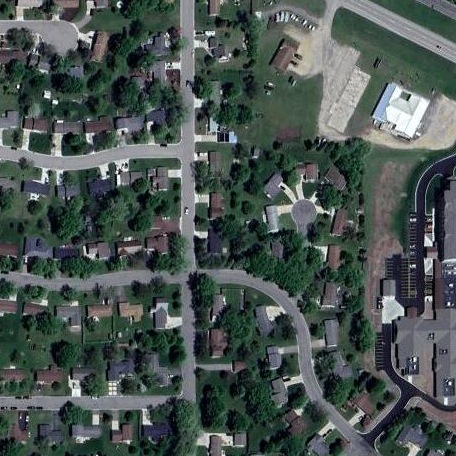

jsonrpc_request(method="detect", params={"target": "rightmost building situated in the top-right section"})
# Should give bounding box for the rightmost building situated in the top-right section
[372,83,431,138]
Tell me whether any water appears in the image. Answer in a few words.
No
